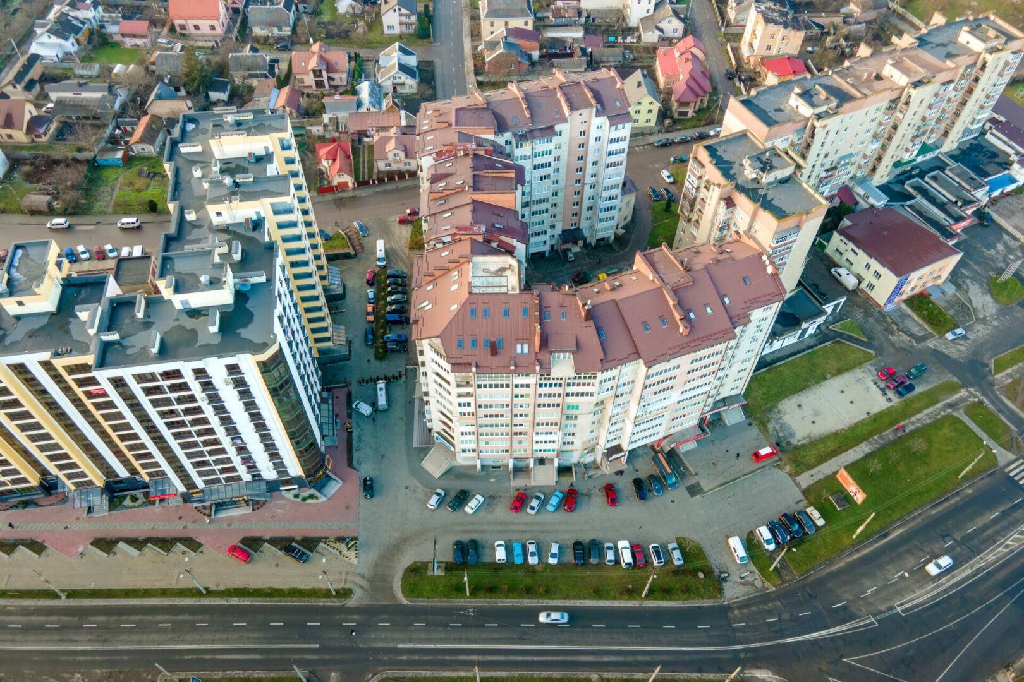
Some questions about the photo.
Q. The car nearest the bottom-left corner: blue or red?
red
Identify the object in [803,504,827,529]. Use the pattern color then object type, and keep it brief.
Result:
white car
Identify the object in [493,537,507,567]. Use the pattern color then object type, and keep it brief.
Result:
white vehicle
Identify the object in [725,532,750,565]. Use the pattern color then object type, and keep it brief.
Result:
white vehicle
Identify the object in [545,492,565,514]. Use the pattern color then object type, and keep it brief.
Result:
blue car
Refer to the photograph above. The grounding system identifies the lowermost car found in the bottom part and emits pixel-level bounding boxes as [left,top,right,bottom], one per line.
[539,611,569,625]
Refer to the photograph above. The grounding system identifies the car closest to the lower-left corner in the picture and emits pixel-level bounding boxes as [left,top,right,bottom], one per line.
[225,543,254,566]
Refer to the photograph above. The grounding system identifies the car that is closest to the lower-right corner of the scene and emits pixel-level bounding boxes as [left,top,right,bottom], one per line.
[923,553,956,577]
